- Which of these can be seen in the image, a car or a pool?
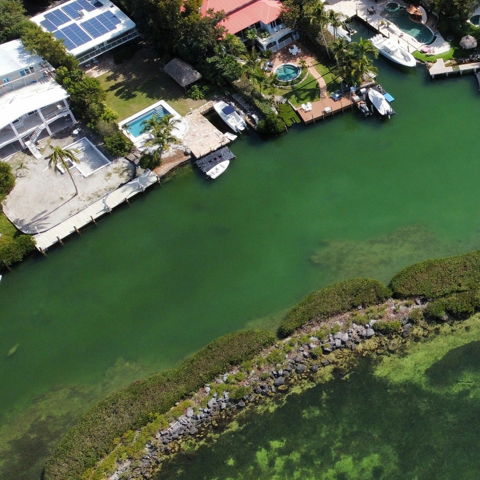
pool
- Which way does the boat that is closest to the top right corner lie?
diagonally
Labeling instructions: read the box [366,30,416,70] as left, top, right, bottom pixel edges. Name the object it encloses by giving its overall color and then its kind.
white boat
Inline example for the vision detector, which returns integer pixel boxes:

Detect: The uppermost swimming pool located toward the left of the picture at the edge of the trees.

[122,102,178,140]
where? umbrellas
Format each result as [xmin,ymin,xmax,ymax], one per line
[457,36,480,52]
[417,39,434,50]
